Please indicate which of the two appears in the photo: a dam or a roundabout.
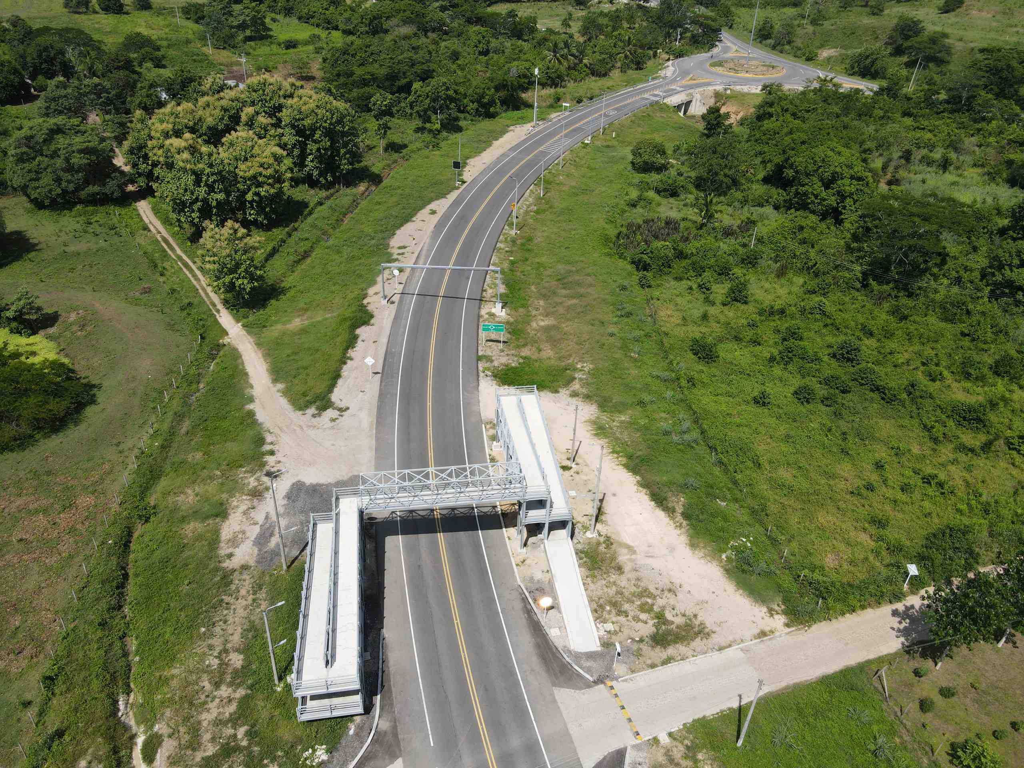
roundabout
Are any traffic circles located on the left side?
No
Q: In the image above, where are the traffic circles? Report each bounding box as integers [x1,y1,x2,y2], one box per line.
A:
[657,22,906,99]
